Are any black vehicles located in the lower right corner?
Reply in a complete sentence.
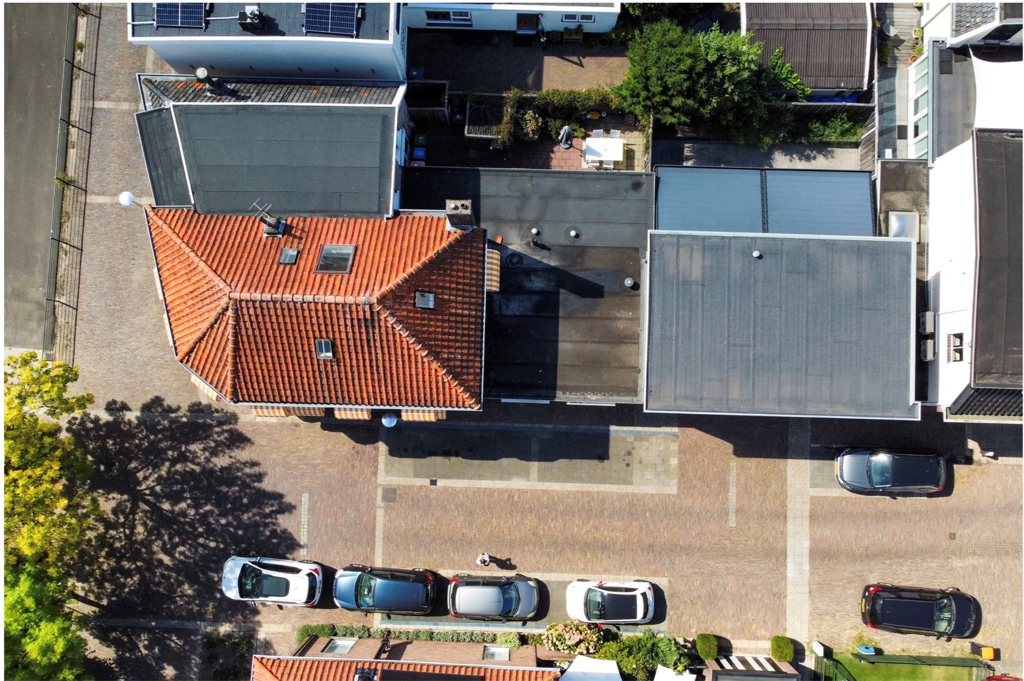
Yes, in the lower right corner there is a black vehicle.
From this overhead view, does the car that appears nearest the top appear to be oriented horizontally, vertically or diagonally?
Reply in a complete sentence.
The car that appears nearest the top is laid out horizontally.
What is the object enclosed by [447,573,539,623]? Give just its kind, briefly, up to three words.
car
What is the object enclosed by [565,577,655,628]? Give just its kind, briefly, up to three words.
car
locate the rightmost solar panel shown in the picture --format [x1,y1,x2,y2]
[302,0,361,38]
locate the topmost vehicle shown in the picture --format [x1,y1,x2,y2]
[831,445,948,500]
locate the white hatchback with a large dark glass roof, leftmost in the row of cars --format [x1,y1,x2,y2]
[223,555,325,609]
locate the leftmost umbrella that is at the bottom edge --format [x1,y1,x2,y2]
[567,656,620,681]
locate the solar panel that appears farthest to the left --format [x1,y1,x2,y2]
[153,0,210,31]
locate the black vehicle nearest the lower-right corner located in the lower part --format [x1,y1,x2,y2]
[857,582,973,639]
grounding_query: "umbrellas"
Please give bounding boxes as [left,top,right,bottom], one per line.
[559,136,572,153]
[656,665,695,681]
[567,656,620,681]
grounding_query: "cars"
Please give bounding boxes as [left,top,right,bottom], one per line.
[565,577,655,628]
[332,562,438,616]
[831,445,948,500]
[447,573,539,623]
[223,555,325,609]
[857,582,973,639]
